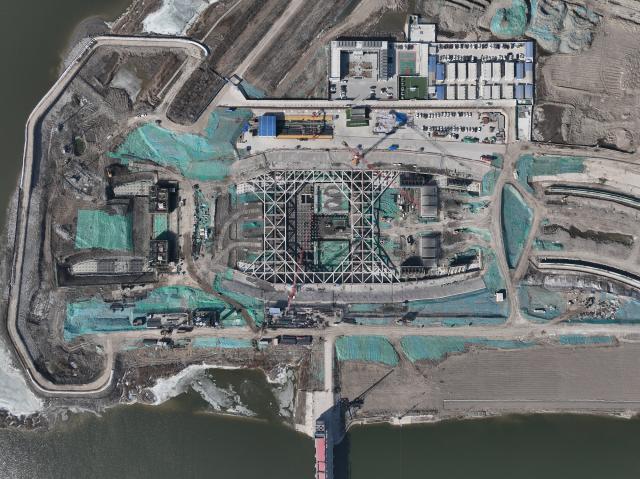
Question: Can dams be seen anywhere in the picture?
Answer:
Yes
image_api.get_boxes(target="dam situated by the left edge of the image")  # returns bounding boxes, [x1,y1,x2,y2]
[3,32,213,398]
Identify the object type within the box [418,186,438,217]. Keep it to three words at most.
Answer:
building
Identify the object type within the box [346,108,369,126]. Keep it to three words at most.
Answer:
shed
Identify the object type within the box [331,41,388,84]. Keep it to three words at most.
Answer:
building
